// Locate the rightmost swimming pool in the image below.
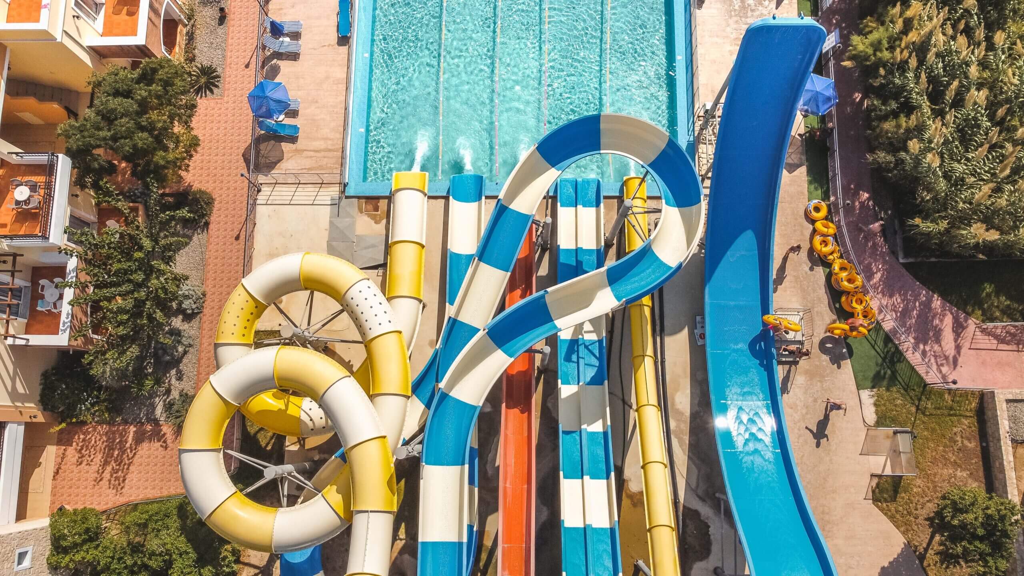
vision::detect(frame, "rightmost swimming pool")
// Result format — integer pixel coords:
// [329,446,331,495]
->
[366,0,677,181]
